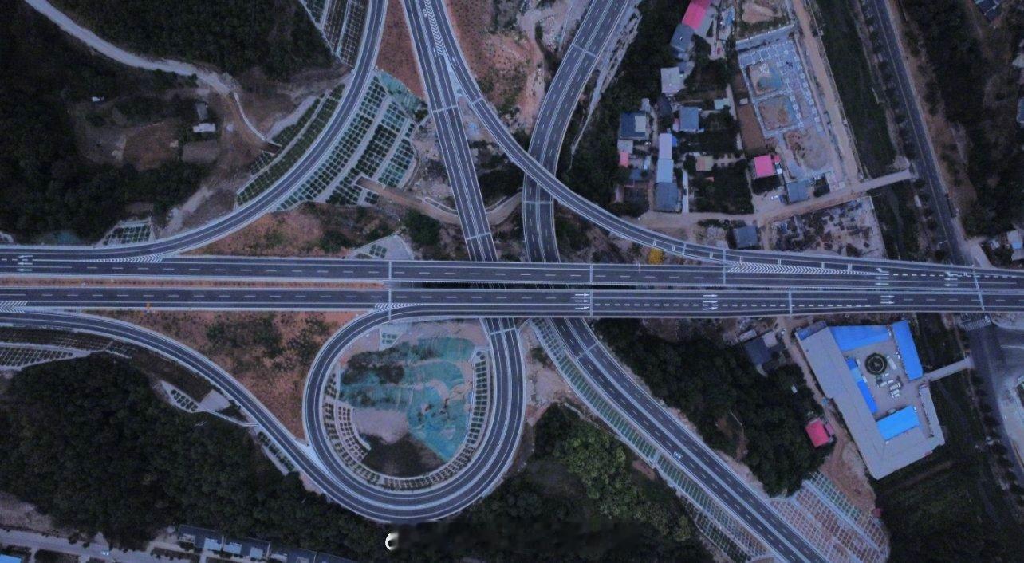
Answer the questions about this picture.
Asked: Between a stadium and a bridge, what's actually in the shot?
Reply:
bridge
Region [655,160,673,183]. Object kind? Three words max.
house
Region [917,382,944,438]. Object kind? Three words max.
building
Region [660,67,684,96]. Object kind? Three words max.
house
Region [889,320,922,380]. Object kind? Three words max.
shed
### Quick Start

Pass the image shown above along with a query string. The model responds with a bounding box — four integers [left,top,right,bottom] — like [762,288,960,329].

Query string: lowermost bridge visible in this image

[919,355,978,381]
